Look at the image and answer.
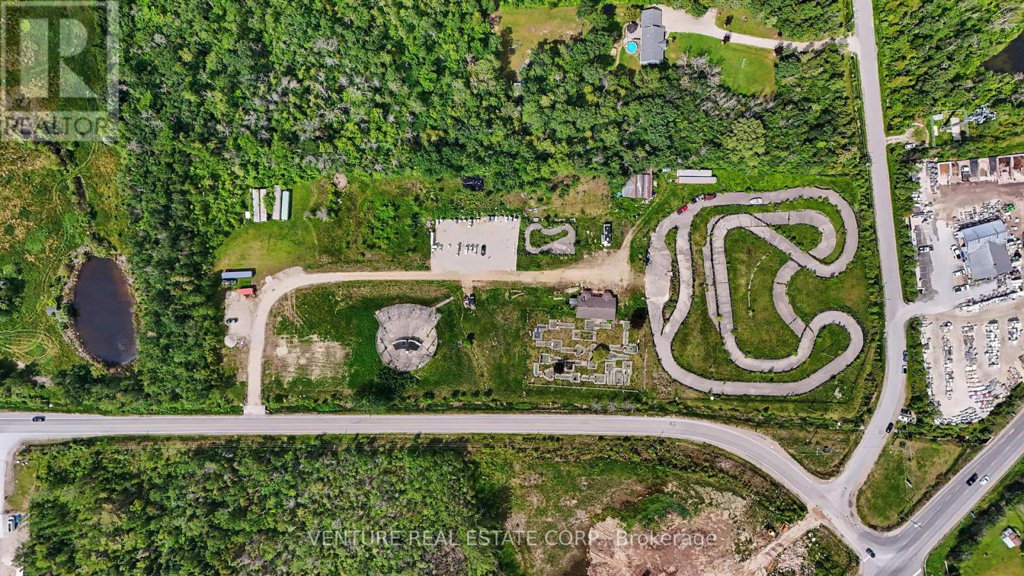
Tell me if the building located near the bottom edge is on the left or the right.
right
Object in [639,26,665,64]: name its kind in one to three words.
house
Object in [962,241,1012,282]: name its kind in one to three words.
building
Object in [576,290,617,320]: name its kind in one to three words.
building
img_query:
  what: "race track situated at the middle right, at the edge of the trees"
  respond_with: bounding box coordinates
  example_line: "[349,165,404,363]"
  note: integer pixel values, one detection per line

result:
[653,186,863,396]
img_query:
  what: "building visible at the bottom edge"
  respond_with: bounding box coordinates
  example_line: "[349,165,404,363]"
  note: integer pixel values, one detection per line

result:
[995,524,1022,548]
